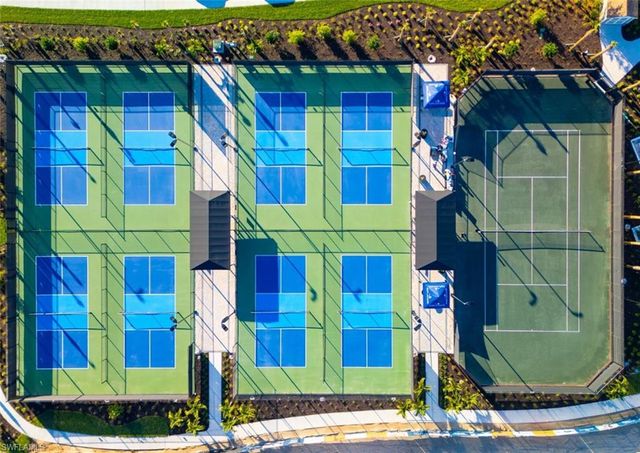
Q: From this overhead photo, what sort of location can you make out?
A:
sports ground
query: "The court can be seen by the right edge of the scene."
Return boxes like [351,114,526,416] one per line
[459,79,612,386]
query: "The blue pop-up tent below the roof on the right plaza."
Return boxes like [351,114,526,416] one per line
[419,280,449,309]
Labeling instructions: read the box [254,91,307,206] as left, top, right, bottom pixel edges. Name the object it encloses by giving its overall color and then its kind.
blue sports court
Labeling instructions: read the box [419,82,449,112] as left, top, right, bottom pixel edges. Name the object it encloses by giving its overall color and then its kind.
blue tent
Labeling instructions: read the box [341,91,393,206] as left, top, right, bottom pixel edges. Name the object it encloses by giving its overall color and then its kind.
blue sports court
